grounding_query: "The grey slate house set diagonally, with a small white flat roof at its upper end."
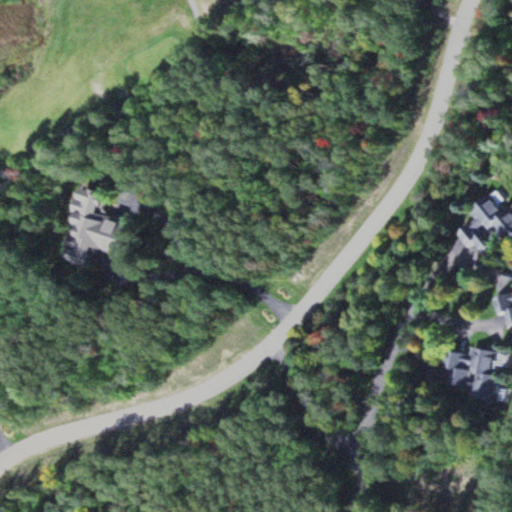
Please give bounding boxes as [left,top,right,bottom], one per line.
[454,188,512,258]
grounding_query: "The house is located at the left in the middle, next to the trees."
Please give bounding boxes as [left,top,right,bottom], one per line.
[66,189,120,254]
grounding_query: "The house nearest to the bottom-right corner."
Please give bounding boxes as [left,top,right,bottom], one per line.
[445,344,497,392]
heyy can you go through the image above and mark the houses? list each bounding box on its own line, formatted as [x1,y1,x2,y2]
[491,276,512,339]
[66,189,120,254]
[445,344,497,392]
[454,188,512,258]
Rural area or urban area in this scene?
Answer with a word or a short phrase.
rural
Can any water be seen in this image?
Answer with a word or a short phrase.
No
